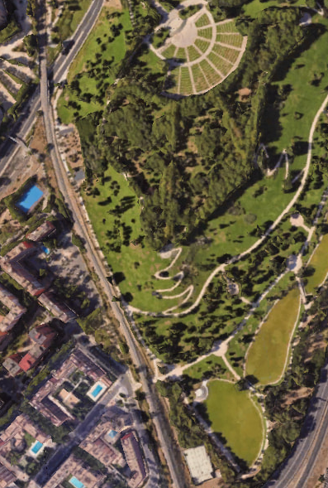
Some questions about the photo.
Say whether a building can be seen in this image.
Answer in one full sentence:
Yes, looking at the shot, I can spot a building.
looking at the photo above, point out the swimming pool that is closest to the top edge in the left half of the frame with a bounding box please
[16,184,42,212]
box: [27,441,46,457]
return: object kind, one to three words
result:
swimming pool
